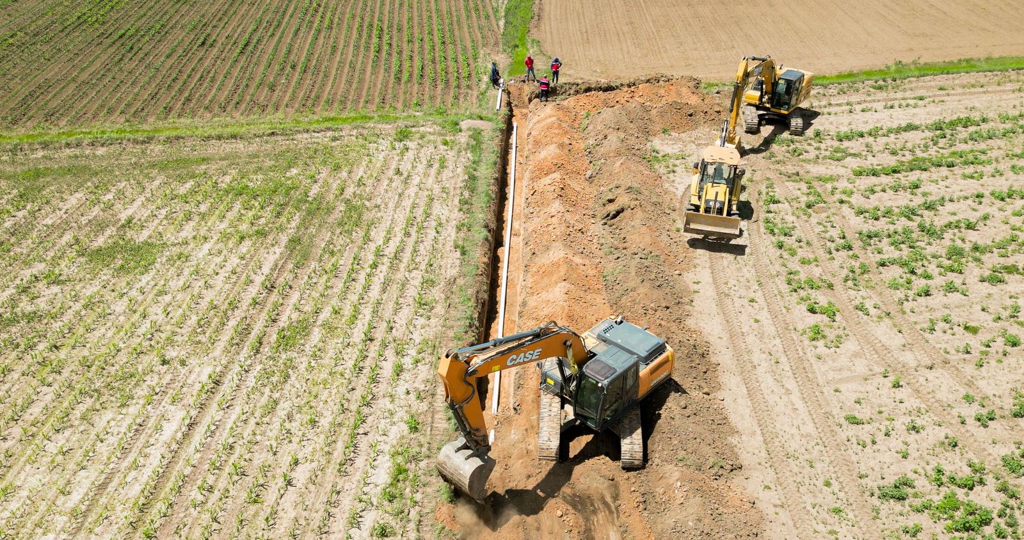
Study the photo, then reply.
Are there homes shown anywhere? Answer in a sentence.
No, I find no home anywhere in the image.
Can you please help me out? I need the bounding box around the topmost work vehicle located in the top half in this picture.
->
[709,48,802,144]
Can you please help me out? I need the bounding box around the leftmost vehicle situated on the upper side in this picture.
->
[685,142,744,238]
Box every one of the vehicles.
[436,308,673,509]
[685,142,744,238]
[709,48,802,144]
